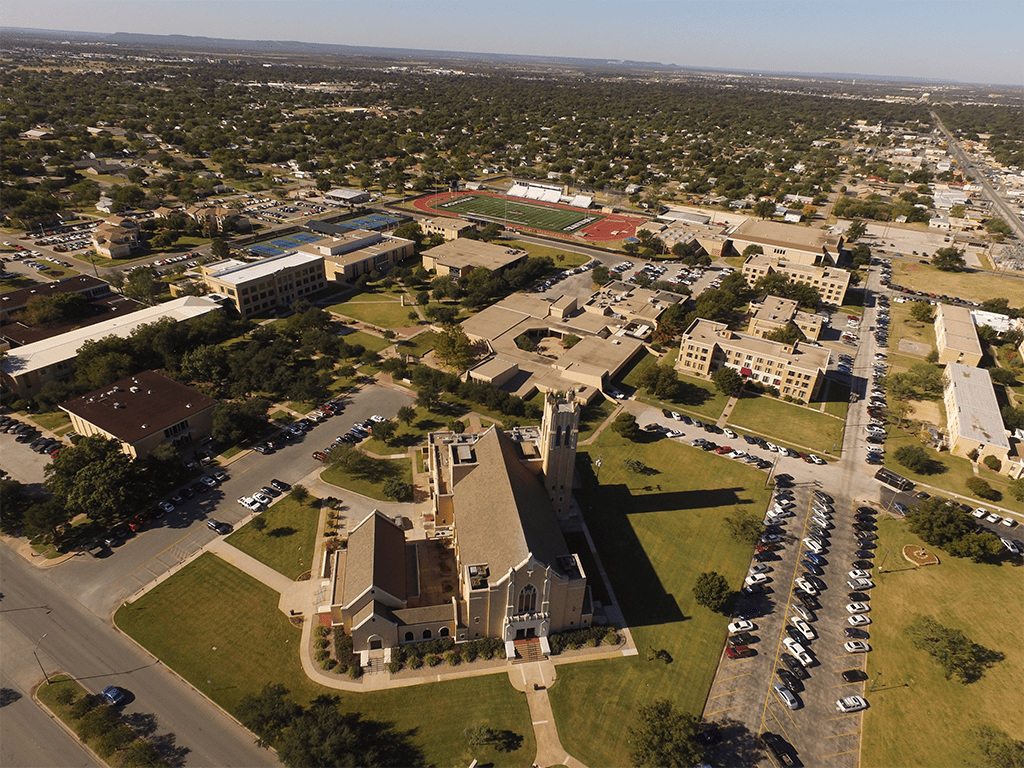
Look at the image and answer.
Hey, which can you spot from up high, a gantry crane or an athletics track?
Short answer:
athletics track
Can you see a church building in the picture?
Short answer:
Yes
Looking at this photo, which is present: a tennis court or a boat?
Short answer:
tennis court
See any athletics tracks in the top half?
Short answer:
Yes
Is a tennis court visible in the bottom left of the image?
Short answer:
No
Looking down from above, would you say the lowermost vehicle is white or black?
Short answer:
black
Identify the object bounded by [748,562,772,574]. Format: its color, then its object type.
gray vehicle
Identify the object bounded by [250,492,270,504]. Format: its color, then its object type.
white vehicle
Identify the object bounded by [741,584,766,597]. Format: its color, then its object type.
black vehicle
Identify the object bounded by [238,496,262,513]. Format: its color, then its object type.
white vehicle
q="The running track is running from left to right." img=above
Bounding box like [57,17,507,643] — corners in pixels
[419,192,645,240]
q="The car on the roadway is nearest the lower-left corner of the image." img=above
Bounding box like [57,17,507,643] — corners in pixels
[101,683,128,706]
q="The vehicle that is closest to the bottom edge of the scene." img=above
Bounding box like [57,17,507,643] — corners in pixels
[763,729,796,768]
